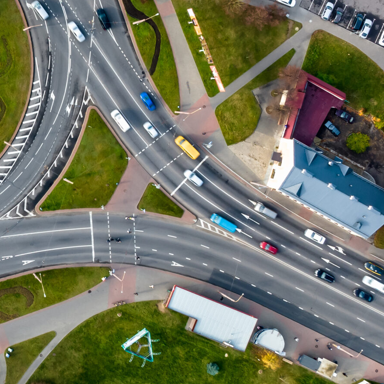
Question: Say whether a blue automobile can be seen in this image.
Yes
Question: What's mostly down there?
paved ground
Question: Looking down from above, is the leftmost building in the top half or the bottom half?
bottom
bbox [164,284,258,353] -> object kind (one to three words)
building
